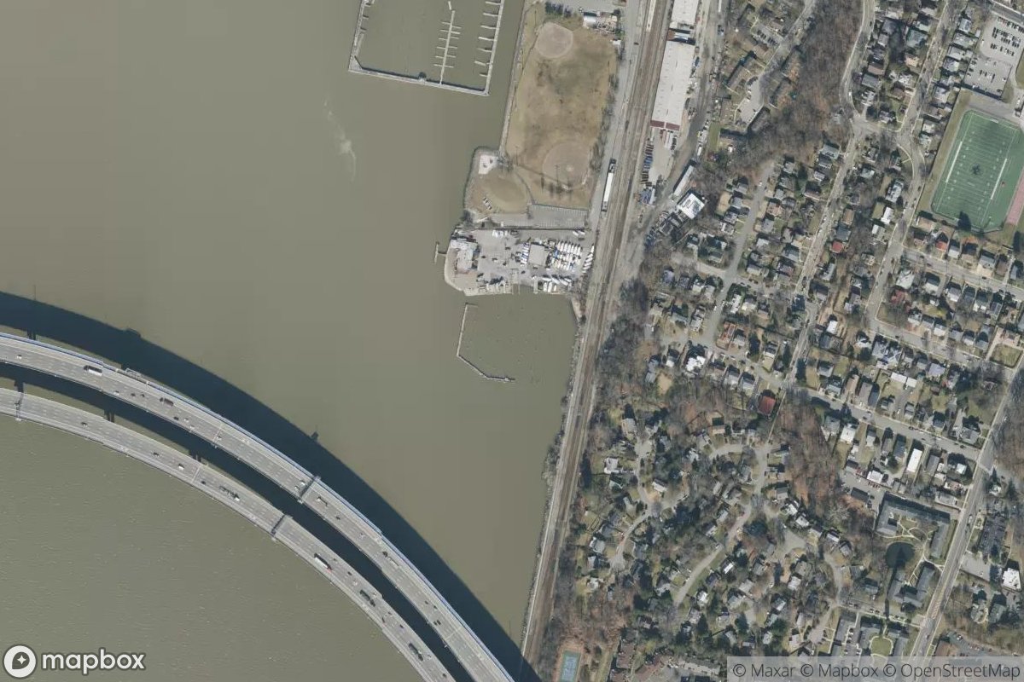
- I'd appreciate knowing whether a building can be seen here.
Yes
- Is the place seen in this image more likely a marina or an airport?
marina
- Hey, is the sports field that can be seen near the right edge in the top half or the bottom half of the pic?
top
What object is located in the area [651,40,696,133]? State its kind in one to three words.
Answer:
building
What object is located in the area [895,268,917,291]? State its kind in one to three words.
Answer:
house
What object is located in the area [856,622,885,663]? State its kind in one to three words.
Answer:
building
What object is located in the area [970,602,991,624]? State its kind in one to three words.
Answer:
house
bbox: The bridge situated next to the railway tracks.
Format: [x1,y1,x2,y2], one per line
[0,333,509,682]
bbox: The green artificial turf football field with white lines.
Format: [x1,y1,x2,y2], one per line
[932,110,1024,231]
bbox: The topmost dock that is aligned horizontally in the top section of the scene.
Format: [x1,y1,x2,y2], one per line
[348,67,490,96]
